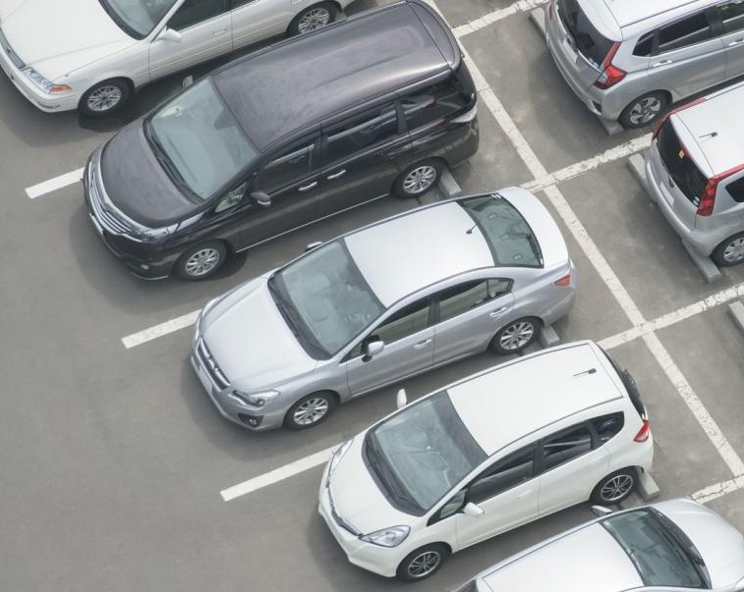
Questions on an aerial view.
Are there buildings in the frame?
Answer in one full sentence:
No, no building can be seen from above.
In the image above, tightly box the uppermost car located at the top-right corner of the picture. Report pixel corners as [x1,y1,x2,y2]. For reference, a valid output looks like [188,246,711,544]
[549,0,744,124]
